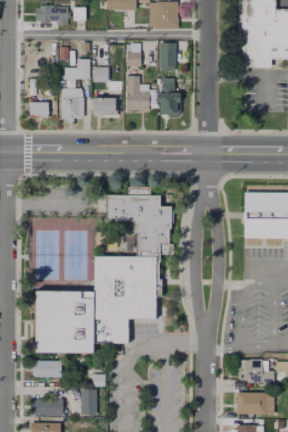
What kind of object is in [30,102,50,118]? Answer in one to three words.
house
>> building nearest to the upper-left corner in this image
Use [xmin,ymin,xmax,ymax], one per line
[36,6,70,26]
